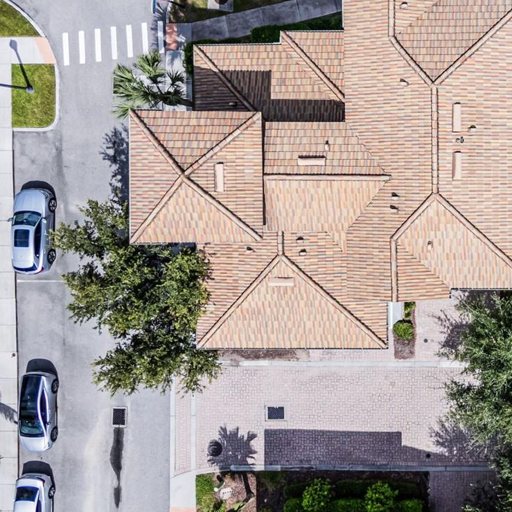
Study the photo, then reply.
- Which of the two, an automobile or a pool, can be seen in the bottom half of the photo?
automobile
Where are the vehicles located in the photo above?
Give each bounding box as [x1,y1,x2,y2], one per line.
[10,472,54,512]
[5,187,56,273]
[9,370,58,450]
